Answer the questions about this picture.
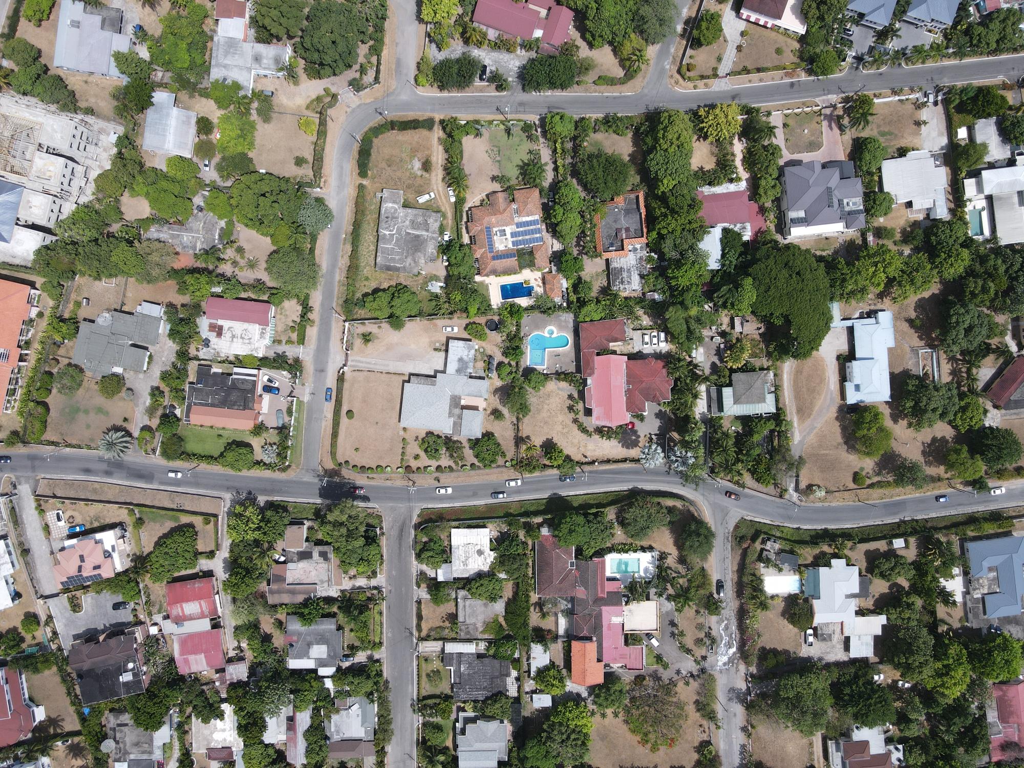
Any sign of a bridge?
No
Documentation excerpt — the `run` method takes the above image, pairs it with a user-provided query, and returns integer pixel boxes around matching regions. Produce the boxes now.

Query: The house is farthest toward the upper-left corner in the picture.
[54,0,136,80]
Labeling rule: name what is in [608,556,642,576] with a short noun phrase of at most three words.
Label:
swimming pool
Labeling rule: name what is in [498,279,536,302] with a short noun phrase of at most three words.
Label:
swimming pool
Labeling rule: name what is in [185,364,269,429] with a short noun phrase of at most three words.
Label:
house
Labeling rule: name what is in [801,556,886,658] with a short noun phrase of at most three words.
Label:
house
